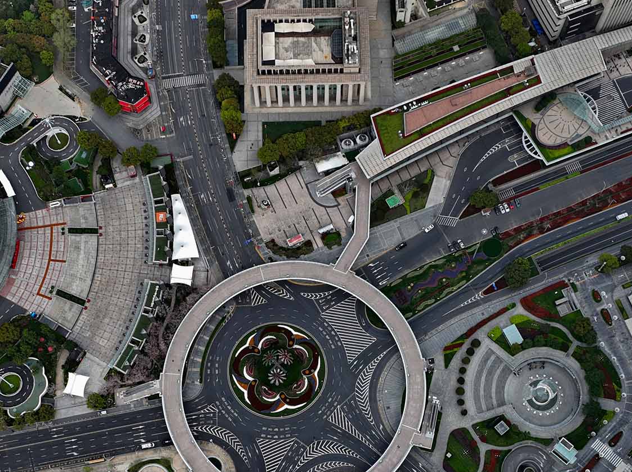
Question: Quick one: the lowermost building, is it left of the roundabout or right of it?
right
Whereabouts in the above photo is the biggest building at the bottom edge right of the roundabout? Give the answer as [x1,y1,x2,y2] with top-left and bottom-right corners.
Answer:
[550,438,577,465]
